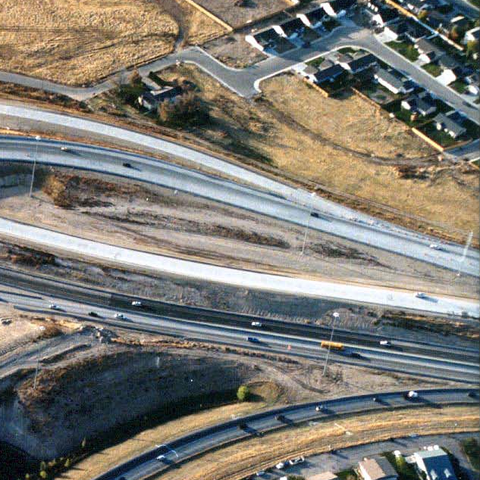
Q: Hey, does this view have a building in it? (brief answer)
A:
Yes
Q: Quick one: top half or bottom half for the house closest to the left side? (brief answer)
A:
top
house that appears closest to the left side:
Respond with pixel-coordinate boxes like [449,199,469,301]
[138,87,178,107]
